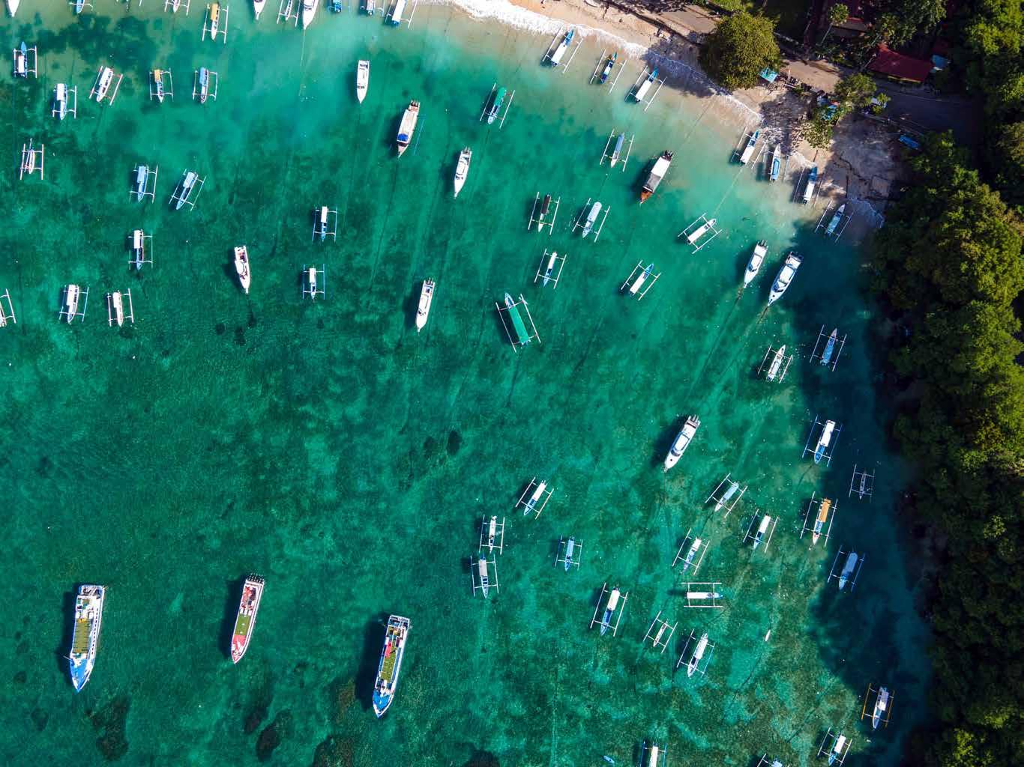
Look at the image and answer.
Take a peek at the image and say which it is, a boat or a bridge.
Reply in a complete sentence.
This aerial view contains a boat.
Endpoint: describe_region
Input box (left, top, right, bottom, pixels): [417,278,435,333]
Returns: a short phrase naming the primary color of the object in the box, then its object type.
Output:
white boat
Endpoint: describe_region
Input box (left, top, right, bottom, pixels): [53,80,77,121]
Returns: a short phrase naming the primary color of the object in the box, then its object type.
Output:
white boat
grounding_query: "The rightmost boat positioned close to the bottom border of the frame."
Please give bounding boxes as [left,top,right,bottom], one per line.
[862,683,895,730]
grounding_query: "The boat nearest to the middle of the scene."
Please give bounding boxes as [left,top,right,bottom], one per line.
[497,293,540,352]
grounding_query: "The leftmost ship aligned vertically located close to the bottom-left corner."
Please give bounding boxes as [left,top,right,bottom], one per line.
[67,584,109,691]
